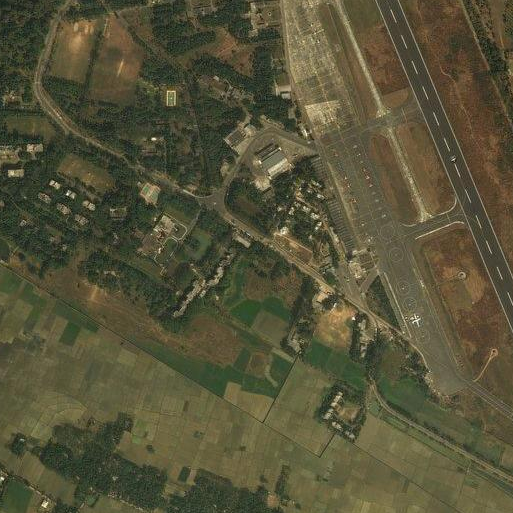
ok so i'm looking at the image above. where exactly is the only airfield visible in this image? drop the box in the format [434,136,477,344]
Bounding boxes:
[285,0,513,421]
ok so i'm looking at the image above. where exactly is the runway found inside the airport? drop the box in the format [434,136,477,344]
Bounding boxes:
[374,0,513,333]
